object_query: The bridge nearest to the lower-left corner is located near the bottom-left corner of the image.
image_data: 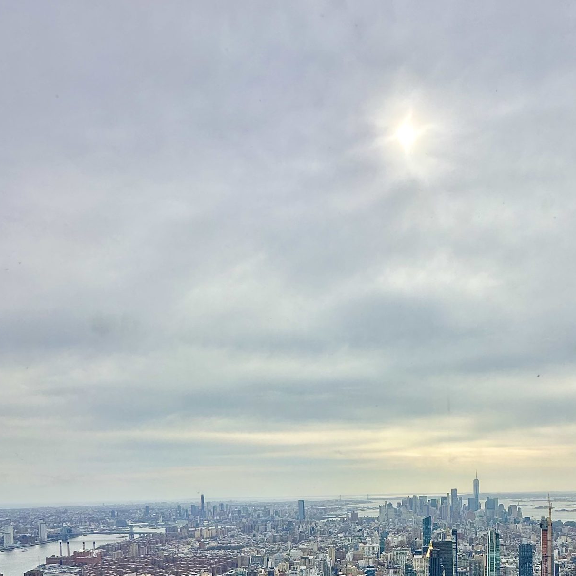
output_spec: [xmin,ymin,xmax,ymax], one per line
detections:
[0,525,190,541]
